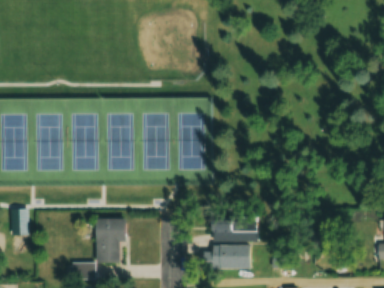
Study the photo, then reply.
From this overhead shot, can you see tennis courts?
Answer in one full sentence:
Yes, a tennis court can be made out from above.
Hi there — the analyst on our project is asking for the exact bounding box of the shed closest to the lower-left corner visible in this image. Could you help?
[10,210,29,236]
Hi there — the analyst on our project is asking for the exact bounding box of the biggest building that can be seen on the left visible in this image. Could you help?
[96,219,126,264]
